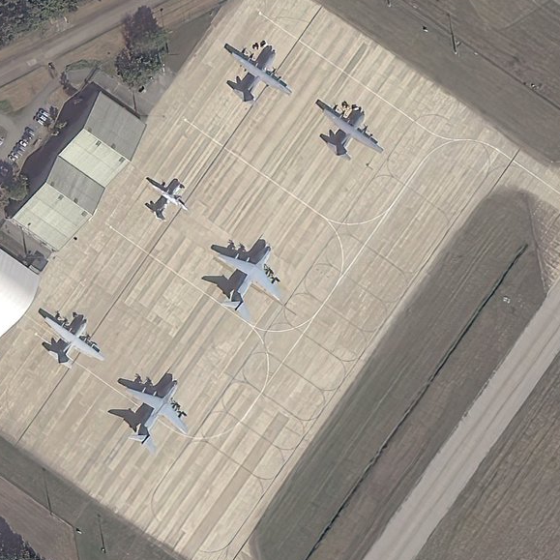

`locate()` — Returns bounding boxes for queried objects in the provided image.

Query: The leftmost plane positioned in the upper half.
[150,184,189,219]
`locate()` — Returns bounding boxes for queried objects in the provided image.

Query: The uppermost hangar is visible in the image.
[51,91,149,187]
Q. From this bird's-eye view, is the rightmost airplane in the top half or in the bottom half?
top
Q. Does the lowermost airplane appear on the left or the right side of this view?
left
